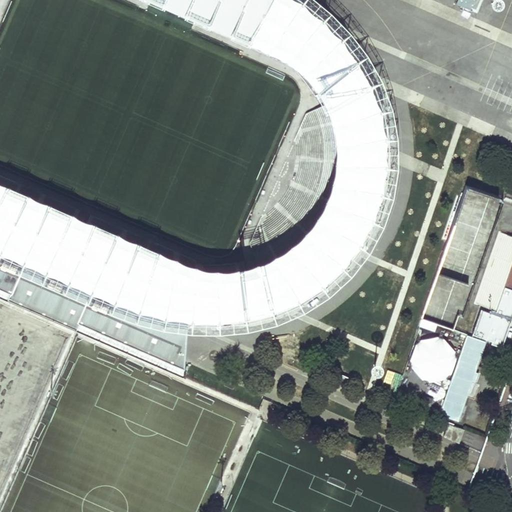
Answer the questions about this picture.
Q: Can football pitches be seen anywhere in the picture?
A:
Yes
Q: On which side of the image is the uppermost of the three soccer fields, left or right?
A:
left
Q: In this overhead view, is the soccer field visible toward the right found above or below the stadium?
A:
below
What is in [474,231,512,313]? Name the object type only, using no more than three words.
building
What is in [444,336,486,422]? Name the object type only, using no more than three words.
building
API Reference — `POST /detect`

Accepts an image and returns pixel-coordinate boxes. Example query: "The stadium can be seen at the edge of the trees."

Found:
[0,0,400,335]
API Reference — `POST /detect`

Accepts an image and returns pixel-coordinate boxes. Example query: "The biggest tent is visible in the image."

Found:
[410,336,458,383]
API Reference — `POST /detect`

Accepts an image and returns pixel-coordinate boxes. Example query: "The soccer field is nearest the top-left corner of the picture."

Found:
[0,0,294,250]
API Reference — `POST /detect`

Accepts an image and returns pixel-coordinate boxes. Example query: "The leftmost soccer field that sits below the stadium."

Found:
[2,343,248,512]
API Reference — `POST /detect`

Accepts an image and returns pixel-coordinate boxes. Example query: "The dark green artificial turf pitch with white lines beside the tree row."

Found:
[222,421,434,512]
